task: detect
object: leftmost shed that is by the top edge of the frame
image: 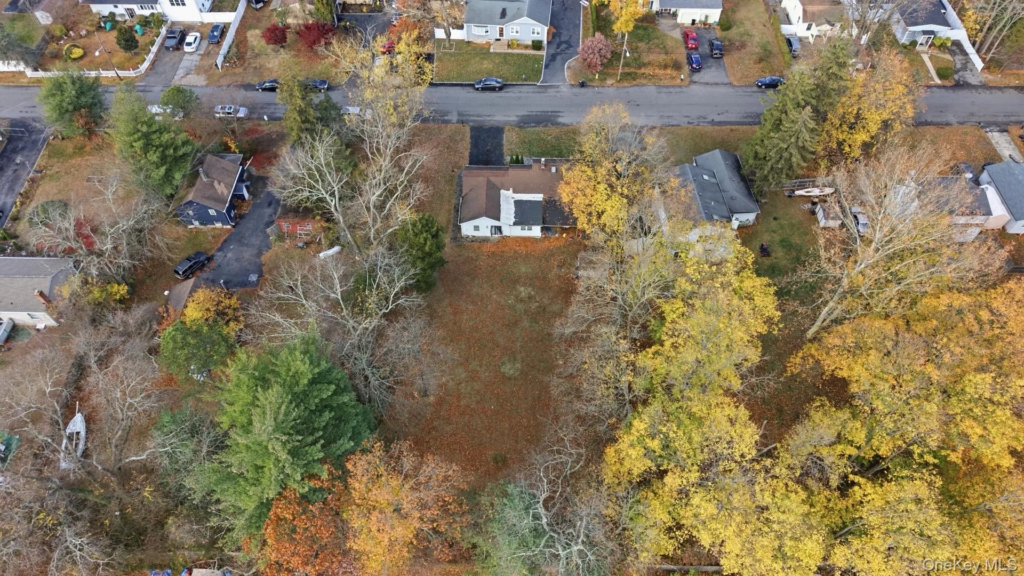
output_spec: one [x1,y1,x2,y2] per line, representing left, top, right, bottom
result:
[28,4,56,26]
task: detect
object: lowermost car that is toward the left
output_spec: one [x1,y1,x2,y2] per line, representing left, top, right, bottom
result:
[169,255,212,282]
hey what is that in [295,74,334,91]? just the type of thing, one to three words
vehicle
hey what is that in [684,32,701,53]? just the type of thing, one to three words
car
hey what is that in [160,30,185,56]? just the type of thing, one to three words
truck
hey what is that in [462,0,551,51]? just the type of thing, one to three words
house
